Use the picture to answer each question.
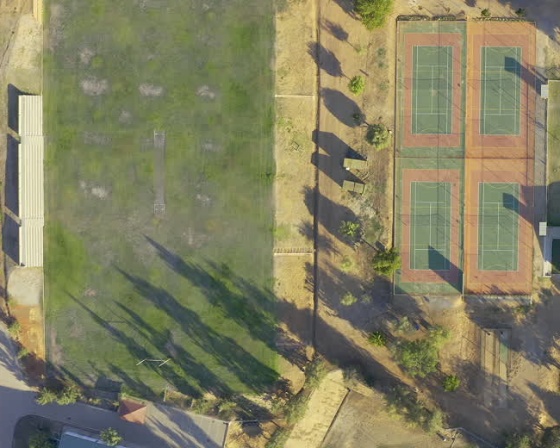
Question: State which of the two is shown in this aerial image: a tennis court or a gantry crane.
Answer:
tennis court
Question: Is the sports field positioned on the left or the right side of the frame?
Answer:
left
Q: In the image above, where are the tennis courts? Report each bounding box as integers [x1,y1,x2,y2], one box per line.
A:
[397,22,466,158]
[465,158,534,295]
[395,158,465,295]
[466,22,536,158]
